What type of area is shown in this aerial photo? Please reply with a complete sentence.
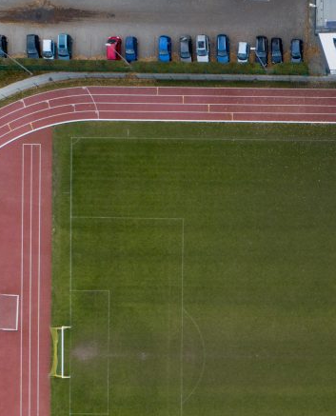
What you see here is a sports ground.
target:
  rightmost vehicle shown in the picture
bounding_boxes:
[288,38,303,64]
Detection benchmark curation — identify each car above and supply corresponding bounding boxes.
[270,38,282,64]
[107,37,121,60]
[234,40,248,65]
[55,33,71,60]
[122,36,137,62]
[194,35,209,64]
[214,33,230,64]
[39,37,54,62]
[255,36,268,64]
[156,35,171,62]
[176,36,192,62]
[22,35,39,59]
[288,38,303,64]
[0,35,7,59]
